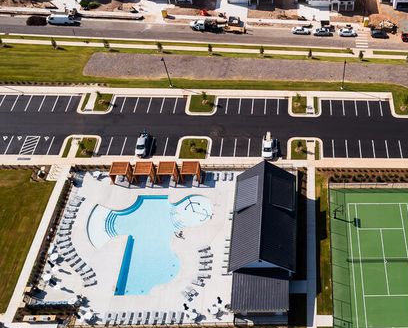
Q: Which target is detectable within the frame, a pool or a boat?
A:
pool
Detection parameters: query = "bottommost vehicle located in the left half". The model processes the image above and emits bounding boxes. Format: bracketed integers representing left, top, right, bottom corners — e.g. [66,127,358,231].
[134,130,151,154]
